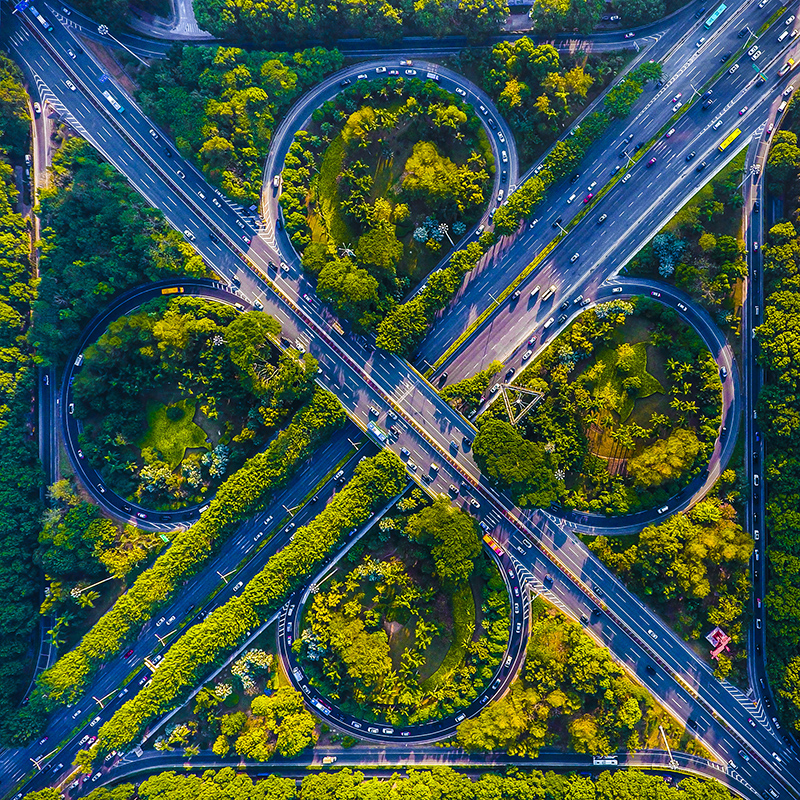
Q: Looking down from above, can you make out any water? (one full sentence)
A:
No, the scene doesn't show any water.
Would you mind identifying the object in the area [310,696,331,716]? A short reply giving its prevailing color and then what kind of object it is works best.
blue bus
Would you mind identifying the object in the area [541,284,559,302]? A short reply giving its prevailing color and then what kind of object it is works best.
white vehicle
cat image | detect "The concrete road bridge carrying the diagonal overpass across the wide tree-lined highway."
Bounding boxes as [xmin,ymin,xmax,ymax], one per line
[305,312,482,500]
